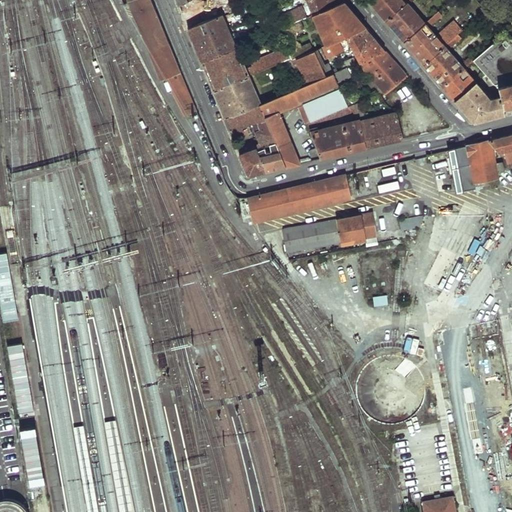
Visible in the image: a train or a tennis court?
train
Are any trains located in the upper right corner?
No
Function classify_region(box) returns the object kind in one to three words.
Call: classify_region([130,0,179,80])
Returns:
building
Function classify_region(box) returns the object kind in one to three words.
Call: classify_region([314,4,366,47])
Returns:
house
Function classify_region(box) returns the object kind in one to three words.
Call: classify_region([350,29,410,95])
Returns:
house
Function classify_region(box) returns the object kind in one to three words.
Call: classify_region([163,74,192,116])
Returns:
shed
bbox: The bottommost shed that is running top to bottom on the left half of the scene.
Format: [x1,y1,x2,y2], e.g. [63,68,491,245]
[19,430,44,490]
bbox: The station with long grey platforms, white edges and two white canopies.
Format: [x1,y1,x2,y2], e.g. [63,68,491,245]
[20,240,264,512]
